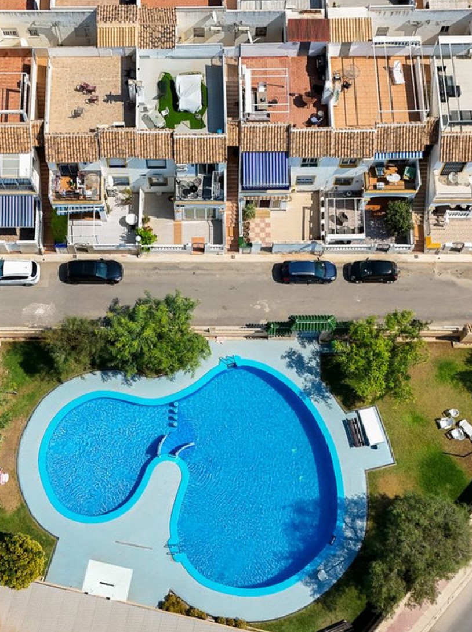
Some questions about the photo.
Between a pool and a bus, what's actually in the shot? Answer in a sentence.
Of the two, only a pool appears.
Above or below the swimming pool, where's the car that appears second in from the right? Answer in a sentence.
It's above the swimming pool that the car that appears second in from the right shows up.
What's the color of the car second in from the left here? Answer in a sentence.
The car second in from the left looks black in the image.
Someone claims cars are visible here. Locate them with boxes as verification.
[280,257,336,286]
[347,256,401,286]
[0,257,40,287]
[67,256,123,286]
